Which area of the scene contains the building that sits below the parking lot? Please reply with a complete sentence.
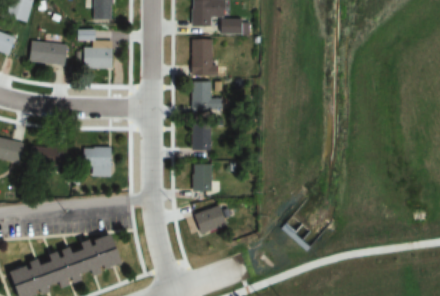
The building that sits below the parking lot appears toward the bottom left of the photo.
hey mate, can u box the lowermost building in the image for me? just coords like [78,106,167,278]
[9,234,120,296]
